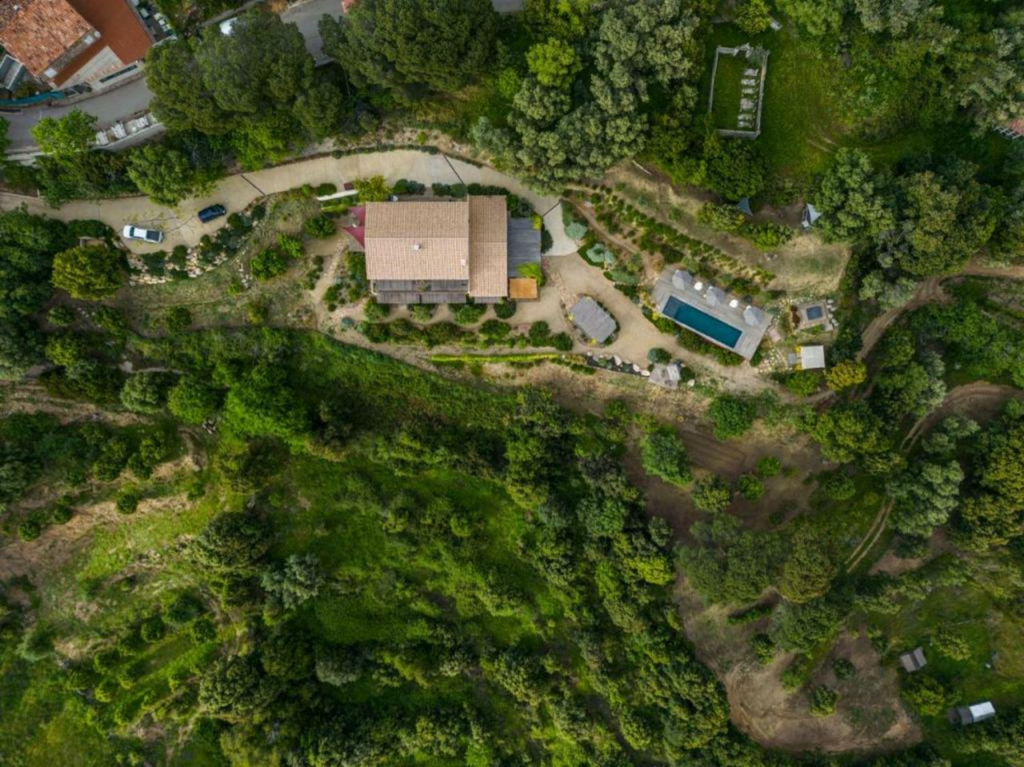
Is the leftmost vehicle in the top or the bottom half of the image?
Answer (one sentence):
The top half of the photo is where the leftmost vehicle is.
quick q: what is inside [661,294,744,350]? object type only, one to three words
swimming pool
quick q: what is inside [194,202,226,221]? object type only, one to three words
car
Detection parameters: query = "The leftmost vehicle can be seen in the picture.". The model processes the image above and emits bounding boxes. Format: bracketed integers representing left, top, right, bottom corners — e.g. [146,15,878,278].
[120,222,162,242]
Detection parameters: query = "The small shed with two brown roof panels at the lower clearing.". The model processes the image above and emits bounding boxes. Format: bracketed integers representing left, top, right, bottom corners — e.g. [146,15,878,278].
[895,644,926,672]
